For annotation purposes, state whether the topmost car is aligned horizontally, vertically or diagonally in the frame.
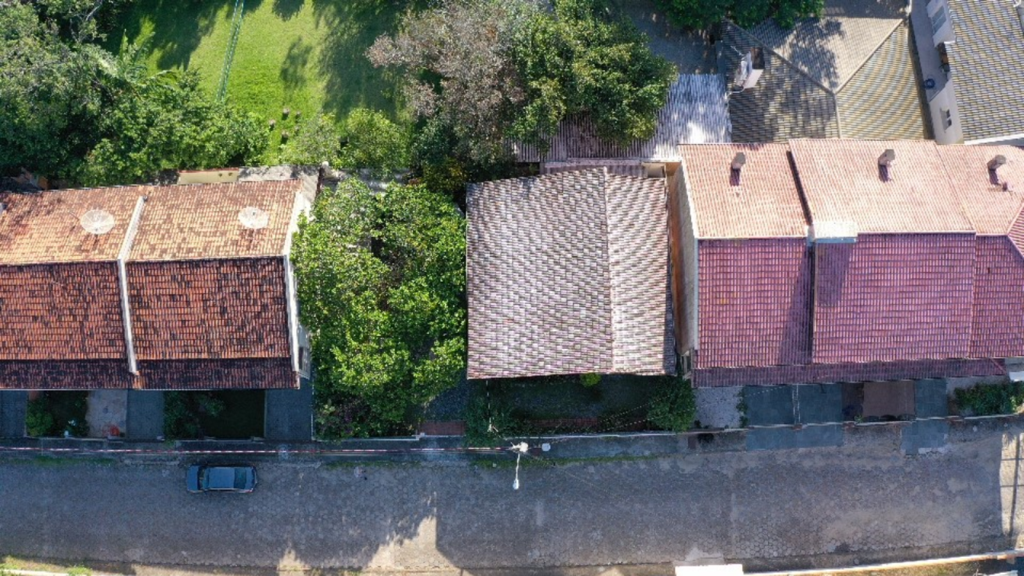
horizontally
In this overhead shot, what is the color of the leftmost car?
blue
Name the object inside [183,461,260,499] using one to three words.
car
